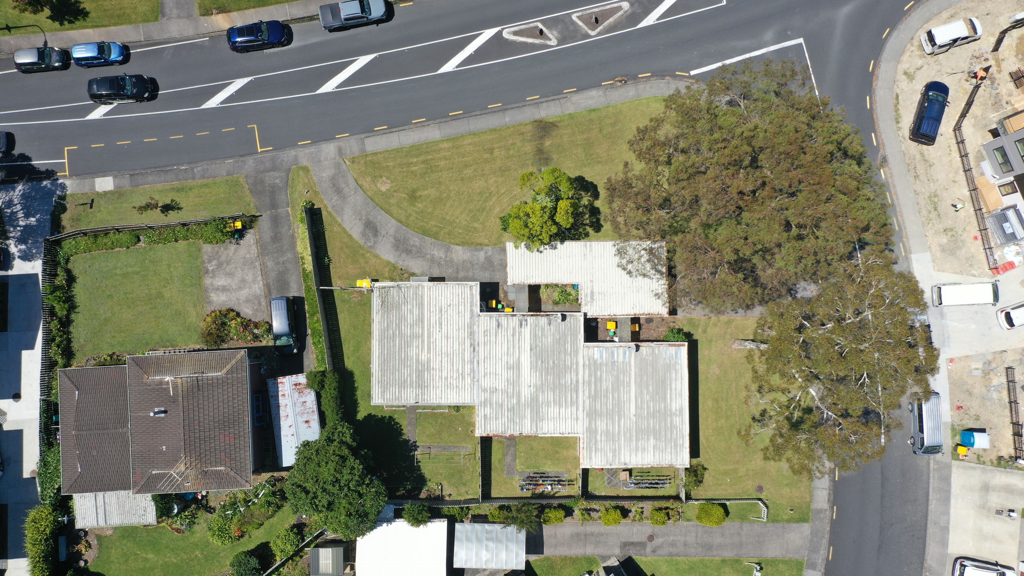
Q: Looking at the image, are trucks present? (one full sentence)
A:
Yes, a truck can be made out from above.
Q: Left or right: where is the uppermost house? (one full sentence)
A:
The uppermost house sits on the right side.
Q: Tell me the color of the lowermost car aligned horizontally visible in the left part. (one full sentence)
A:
The lowermost car aligned horizontally visible in the left part looks black in the image.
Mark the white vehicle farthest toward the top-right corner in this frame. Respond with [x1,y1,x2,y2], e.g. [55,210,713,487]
[918,13,985,57]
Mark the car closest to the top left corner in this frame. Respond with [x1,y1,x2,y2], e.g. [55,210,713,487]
[8,42,65,73]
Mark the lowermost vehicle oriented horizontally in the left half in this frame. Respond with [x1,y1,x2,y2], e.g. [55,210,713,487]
[82,70,151,105]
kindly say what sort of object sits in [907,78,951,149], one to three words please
truck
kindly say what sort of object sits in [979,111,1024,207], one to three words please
house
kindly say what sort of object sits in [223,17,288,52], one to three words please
car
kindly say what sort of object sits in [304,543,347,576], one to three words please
shed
